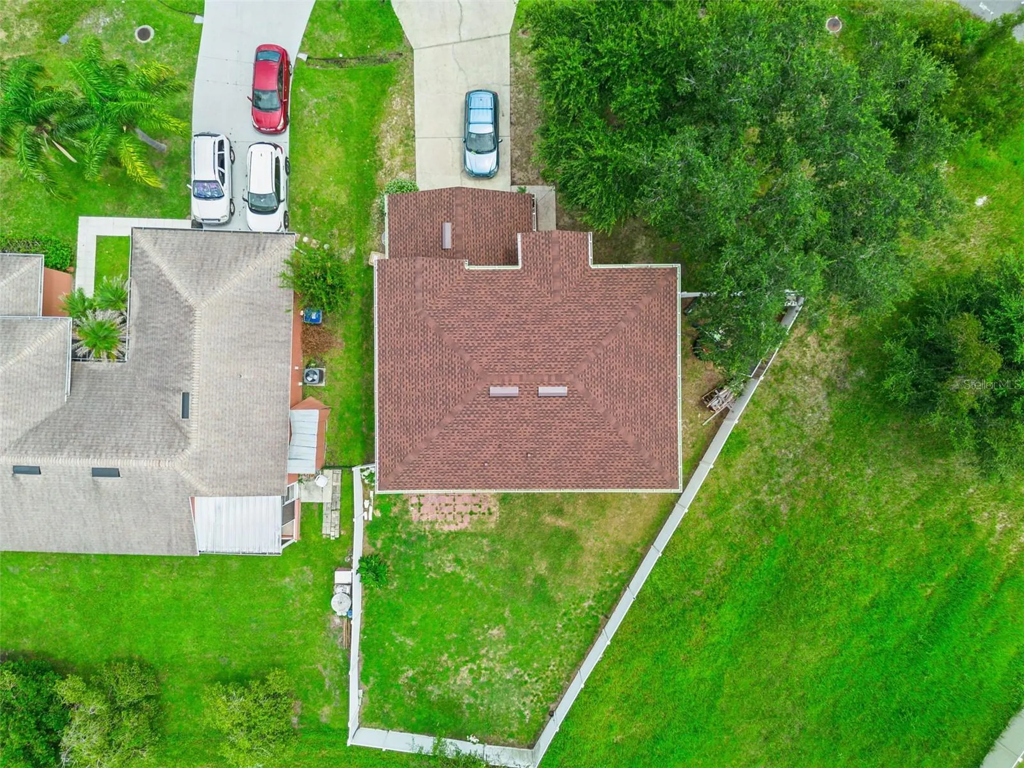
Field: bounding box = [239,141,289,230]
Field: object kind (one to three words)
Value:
car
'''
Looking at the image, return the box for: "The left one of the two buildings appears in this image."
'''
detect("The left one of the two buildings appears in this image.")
[0,225,332,557]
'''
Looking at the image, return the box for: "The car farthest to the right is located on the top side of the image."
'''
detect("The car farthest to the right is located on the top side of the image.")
[459,88,504,182]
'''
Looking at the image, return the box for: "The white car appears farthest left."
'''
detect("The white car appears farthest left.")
[185,131,234,226]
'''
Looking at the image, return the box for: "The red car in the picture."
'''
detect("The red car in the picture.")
[245,43,293,138]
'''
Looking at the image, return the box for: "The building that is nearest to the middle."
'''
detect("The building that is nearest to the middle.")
[372,185,684,493]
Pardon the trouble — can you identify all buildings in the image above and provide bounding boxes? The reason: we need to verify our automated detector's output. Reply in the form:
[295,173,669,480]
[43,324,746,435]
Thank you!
[372,185,684,493]
[0,225,332,557]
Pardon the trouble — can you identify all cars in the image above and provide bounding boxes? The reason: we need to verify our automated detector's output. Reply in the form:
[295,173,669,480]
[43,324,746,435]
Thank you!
[185,131,234,226]
[239,141,289,230]
[459,88,504,182]
[245,43,293,138]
